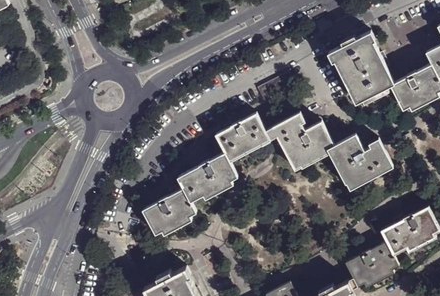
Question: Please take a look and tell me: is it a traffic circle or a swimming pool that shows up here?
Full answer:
Looking from above, you can make out a traffic circle.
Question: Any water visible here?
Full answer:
No, water can't be seen anywhere here.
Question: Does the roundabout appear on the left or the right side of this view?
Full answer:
The roundabout appears in the left half of the scene.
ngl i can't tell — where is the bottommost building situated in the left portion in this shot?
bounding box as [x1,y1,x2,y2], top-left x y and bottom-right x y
[142,270,198,296]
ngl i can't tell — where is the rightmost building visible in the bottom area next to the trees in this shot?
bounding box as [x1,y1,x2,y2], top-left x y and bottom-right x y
[380,206,440,257]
